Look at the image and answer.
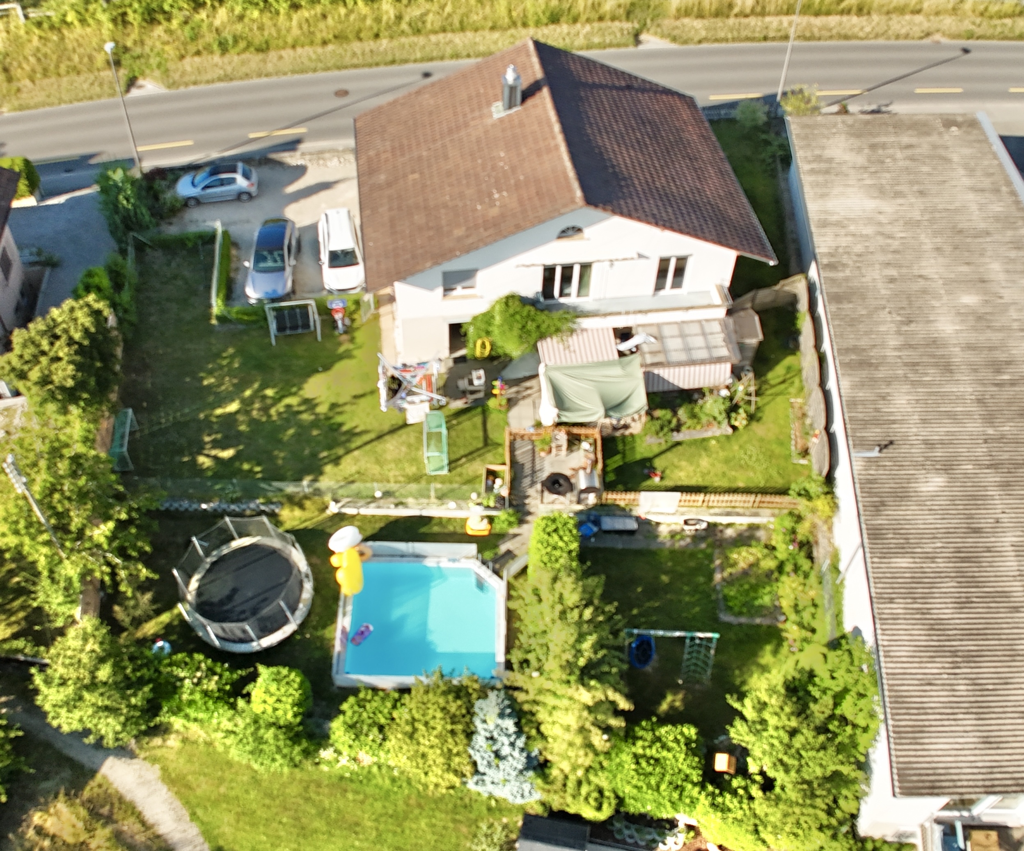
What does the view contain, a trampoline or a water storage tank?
trampoline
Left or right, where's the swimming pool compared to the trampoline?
to its right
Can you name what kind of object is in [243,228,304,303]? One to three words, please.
car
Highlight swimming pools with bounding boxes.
[333,549,510,698]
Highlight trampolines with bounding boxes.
[164,509,318,658]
